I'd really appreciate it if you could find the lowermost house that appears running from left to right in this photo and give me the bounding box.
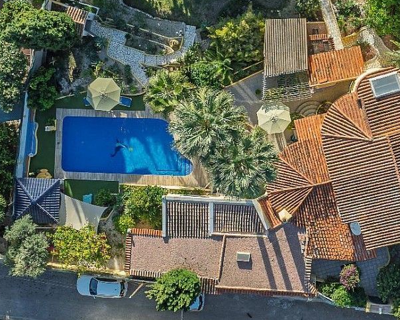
[122,221,322,304]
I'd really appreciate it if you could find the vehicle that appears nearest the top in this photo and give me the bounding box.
[77,274,128,302]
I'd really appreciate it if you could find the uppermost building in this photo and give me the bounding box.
[66,6,96,38]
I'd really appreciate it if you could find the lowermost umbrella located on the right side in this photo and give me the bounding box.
[257,102,292,136]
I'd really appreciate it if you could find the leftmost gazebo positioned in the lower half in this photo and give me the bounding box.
[12,177,67,225]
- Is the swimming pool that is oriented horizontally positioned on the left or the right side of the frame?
left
